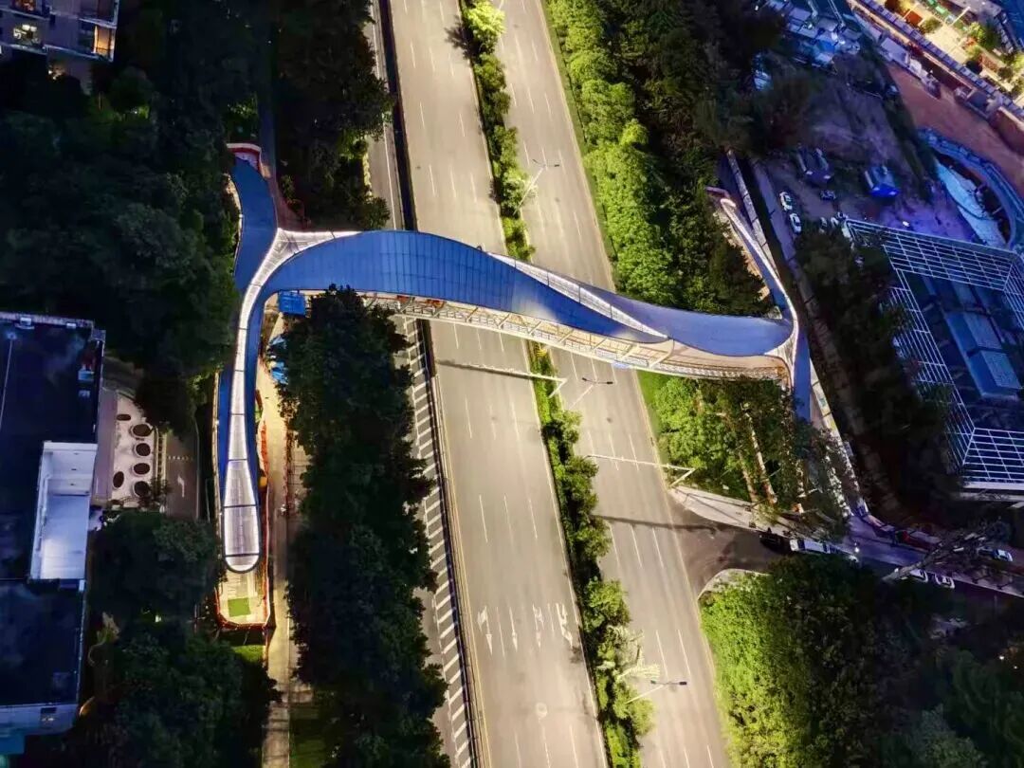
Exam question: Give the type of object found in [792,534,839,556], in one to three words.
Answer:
vehicle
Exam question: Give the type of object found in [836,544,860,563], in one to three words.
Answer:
car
